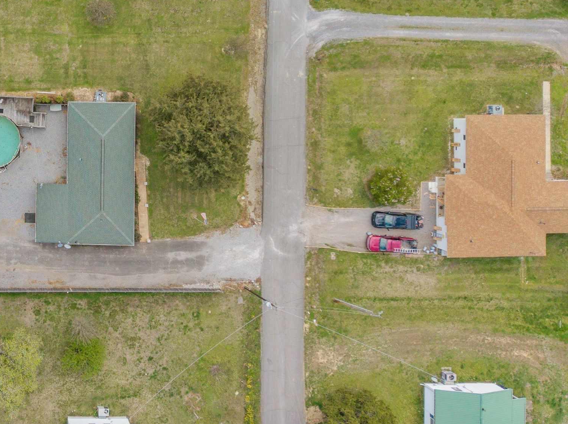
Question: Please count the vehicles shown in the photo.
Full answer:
In total, 2 vehicles can be seen.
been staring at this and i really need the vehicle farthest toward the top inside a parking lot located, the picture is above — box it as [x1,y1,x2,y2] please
[368,209,423,233]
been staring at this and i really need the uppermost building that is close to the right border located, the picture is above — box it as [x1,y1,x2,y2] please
[438,114,568,258]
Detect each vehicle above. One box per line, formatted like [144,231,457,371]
[364,232,417,256]
[368,209,423,233]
